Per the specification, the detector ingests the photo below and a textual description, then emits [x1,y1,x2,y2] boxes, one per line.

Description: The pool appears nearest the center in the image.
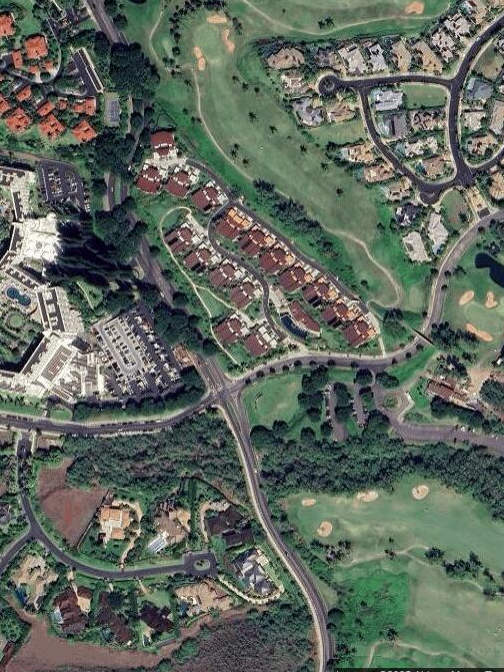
[281,315,309,340]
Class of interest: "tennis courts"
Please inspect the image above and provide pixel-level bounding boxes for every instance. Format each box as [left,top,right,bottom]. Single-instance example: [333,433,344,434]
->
[104,93,122,125]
